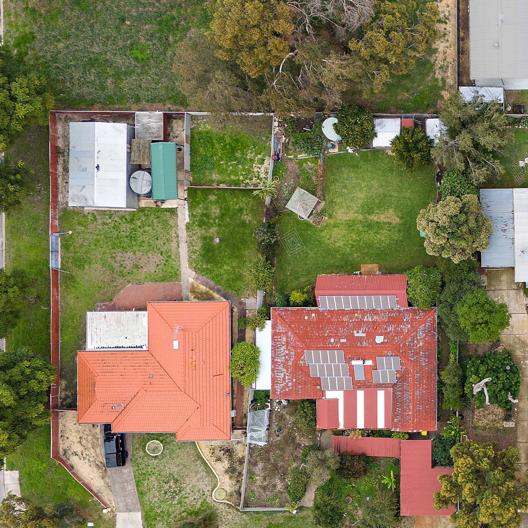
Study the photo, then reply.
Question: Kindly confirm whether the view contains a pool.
No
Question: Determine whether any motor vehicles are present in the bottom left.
Yes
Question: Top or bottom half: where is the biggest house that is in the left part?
bottom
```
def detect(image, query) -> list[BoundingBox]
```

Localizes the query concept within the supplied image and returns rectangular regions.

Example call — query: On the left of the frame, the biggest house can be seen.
[76,300,235,442]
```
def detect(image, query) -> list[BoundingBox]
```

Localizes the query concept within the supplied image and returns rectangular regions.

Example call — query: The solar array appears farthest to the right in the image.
[372,356,400,383]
